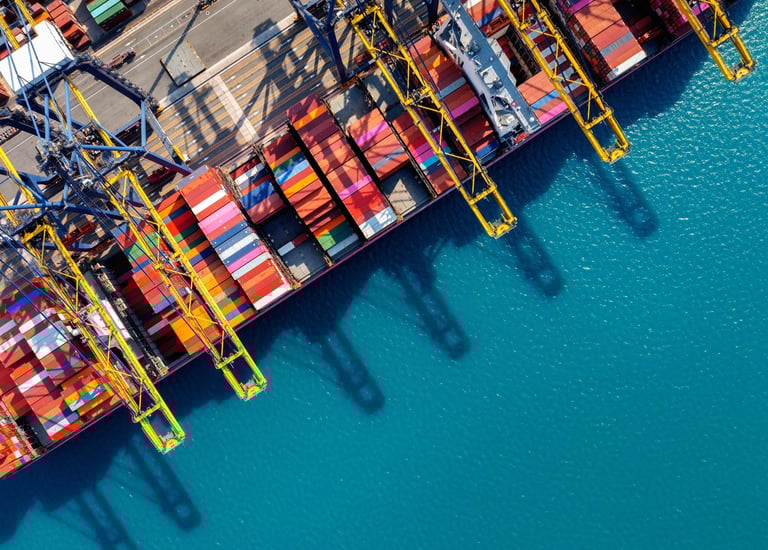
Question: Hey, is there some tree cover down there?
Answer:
No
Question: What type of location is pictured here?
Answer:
port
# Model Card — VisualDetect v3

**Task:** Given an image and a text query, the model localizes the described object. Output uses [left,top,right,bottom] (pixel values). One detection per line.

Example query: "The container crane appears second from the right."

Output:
[413,0,633,165]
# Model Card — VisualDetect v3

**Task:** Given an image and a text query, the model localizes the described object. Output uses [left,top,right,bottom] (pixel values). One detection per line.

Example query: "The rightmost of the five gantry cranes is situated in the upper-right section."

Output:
[669,0,757,86]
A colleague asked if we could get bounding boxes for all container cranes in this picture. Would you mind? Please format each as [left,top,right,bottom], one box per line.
[284,0,518,239]
[0,98,188,454]
[413,0,633,165]
[0,0,268,401]
[669,0,757,86]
